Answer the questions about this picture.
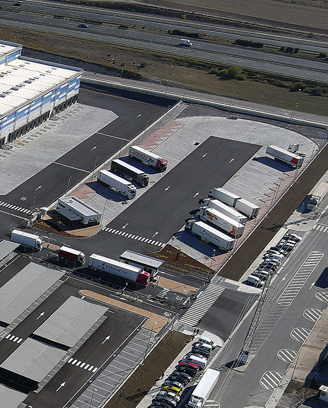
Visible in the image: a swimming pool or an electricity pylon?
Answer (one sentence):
The one in the frame is an electricity pylon.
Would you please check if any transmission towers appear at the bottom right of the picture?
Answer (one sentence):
Yes, at the bottom right of the picture there is a transmission tower.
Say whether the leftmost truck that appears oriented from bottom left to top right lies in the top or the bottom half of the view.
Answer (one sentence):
The bottom half of the photo is where the leftmost truck that appears oriented from bottom left to top right is.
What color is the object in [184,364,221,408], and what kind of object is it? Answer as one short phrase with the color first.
white truck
